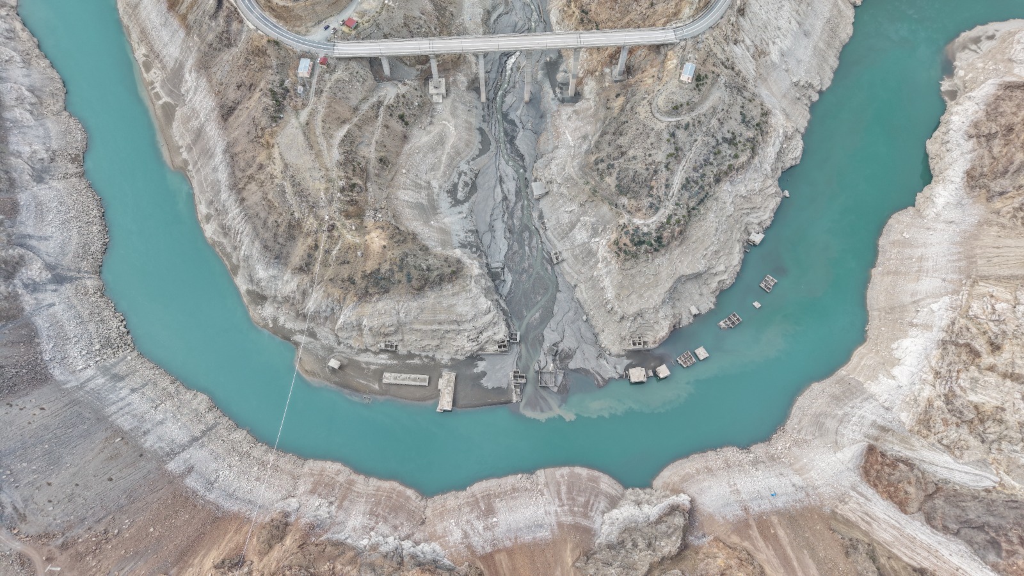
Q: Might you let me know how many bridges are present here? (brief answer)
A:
1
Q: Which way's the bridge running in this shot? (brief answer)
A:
from side to side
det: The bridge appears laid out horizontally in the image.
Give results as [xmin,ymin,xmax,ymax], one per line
[325,27,681,103]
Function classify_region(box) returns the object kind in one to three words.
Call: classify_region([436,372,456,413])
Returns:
house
